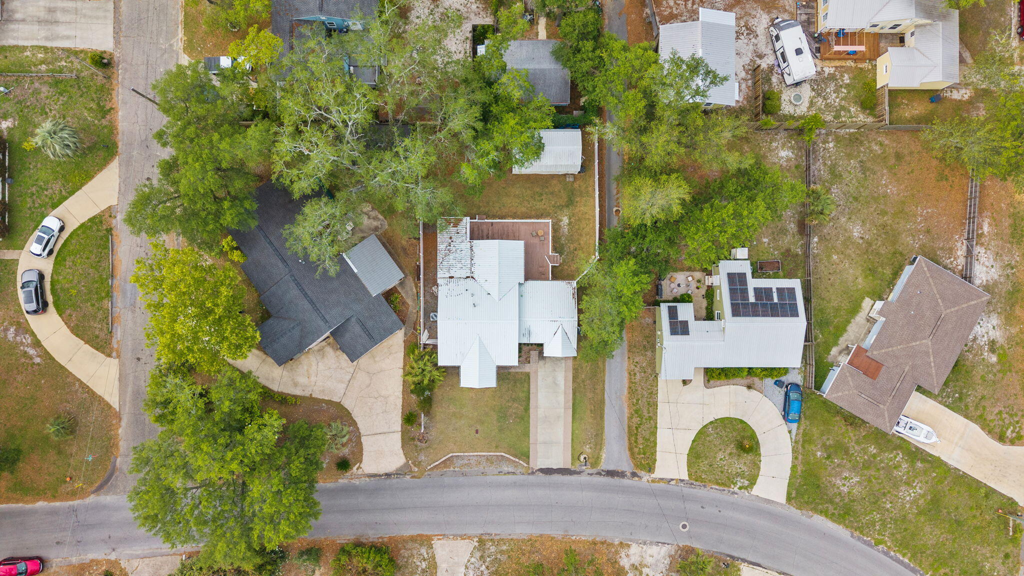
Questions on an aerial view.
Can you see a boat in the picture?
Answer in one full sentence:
Yes, there is a boat in the image.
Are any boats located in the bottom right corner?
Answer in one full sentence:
Yes, a boat appears in the bottom right corner.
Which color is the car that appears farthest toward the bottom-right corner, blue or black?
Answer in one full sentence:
In this view, the car that appears farthest toward the bottom-right corner is blue.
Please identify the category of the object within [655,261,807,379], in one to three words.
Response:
house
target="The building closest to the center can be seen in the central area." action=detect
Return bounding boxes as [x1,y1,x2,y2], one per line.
[438,217,578,388]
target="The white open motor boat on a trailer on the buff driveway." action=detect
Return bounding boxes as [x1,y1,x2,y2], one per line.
[894,411,942,444]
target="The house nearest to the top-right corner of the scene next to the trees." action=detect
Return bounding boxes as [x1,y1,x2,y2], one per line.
[809,0,959,92]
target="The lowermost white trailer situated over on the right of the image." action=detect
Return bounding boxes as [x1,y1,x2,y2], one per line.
[769,23,817,86]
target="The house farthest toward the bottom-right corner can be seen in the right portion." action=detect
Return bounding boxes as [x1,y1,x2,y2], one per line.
[817,254,991,434]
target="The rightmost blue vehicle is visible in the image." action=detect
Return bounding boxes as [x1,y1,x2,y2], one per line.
[782,382,803,424]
